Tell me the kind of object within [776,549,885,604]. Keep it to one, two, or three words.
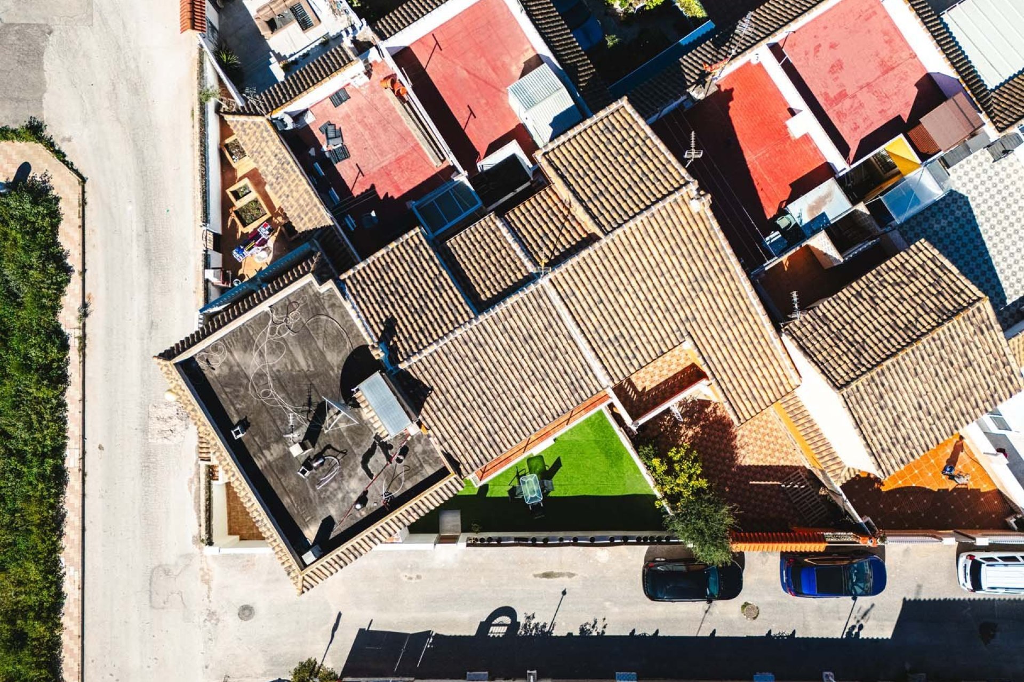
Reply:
car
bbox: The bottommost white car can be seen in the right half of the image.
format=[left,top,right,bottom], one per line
[957,546,1024,595]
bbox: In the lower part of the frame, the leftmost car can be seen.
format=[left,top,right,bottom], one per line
[640,554,742,609]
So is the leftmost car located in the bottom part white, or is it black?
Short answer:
black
